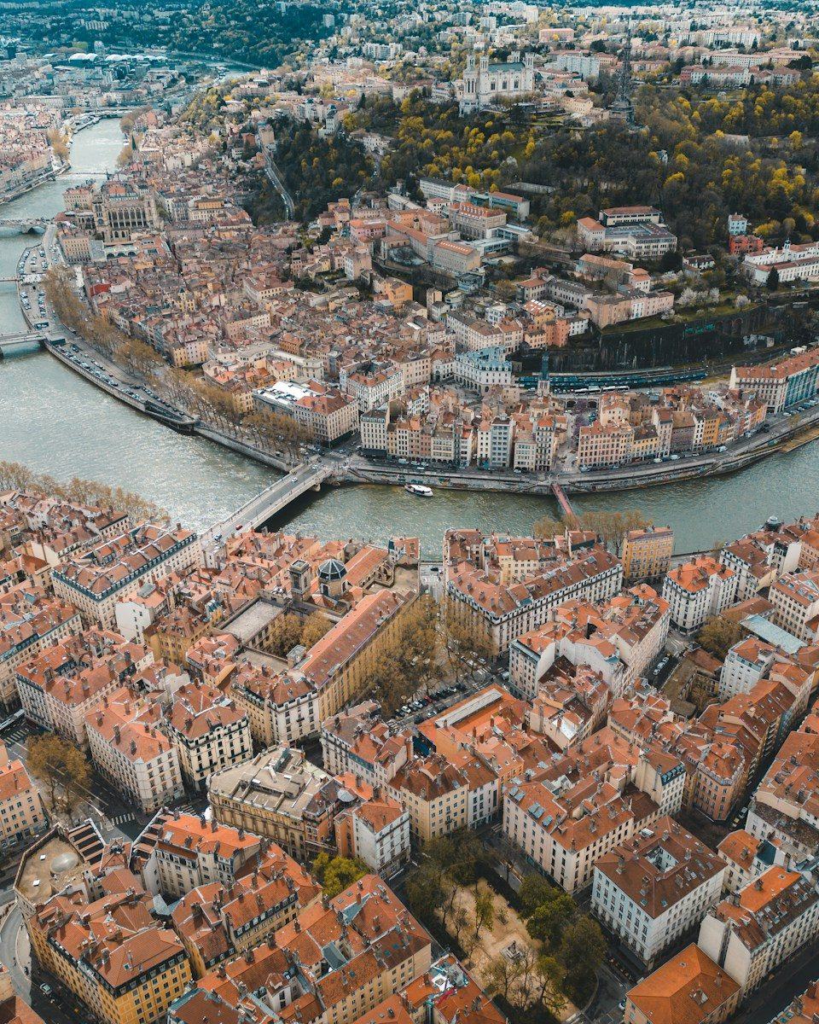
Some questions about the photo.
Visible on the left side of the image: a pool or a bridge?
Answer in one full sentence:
What appears on the left side of the image is a bridge.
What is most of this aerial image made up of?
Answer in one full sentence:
The bulk of the photo consists of buildings.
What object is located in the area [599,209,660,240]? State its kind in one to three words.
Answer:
building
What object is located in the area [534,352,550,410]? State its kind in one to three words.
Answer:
building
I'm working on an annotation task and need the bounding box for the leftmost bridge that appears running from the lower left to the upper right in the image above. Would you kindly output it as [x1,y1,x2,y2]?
[202,462,332,556]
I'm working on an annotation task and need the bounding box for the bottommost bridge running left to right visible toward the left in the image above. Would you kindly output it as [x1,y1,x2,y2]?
[0,333,53,353]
